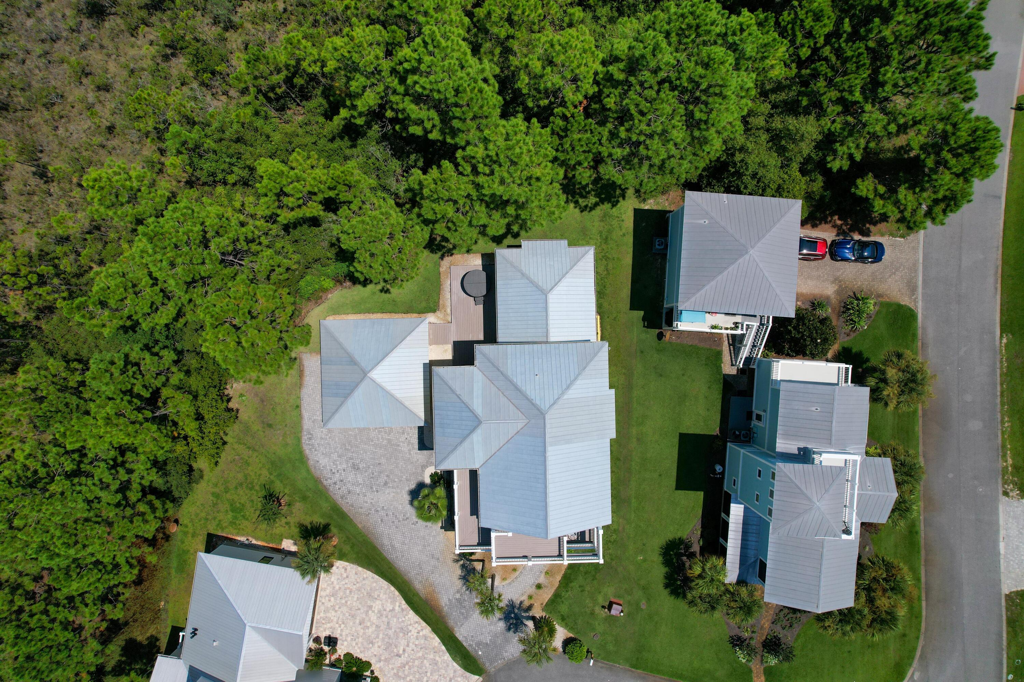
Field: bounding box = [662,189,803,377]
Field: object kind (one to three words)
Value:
house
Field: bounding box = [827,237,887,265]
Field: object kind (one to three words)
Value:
car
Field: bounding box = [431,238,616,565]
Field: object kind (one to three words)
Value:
house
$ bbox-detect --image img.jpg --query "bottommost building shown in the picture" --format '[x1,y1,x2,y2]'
[149,540,344,682]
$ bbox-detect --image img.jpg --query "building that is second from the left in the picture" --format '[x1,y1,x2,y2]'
[319,316,432,429]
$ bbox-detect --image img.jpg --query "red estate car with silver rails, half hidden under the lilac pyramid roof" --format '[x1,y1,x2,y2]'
[798,234,829,260]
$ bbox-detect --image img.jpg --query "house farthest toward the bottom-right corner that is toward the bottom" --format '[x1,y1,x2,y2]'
[718,357,898,613]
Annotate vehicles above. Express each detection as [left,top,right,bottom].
[798,234,829,260]
[827,237,887,265]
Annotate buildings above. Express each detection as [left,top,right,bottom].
[431,238,616,565]
[319,316,432,429]
[718,357,898,613]
[662,189,803,377]
[149,540,344,682]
